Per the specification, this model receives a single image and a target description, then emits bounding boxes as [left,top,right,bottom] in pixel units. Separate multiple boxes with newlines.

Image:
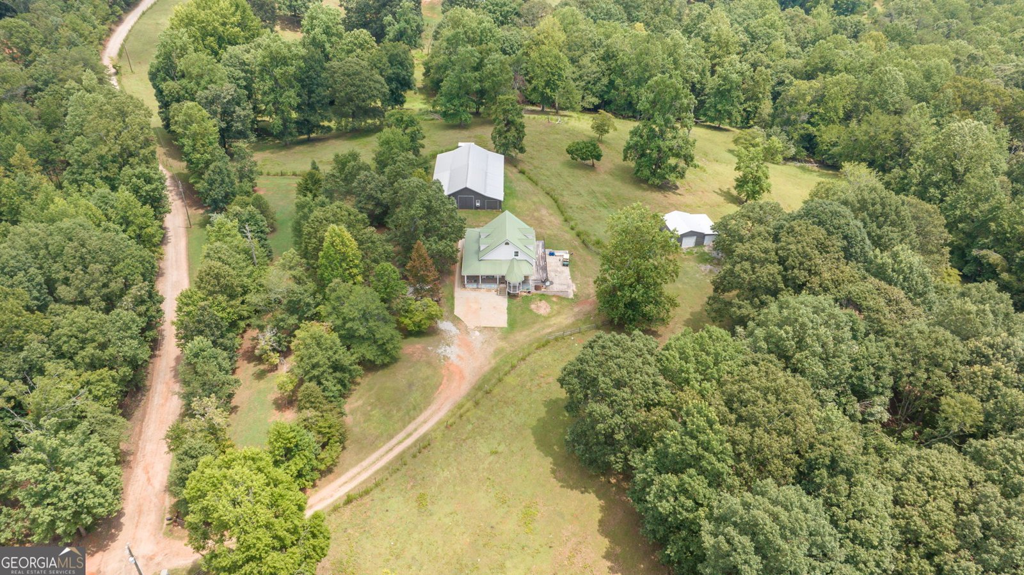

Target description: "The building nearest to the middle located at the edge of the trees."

[460,209,535,291]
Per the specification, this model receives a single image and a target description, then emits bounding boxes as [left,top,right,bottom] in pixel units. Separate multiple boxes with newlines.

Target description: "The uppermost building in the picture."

[431,141,504,210]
